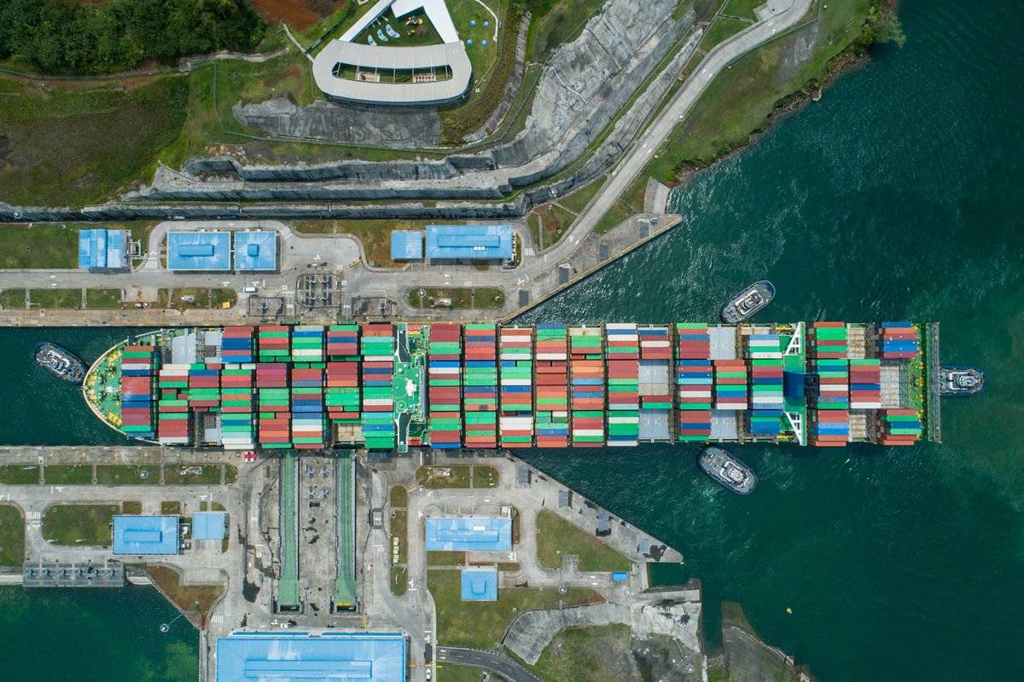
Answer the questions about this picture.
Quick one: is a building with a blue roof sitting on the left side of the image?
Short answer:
Yes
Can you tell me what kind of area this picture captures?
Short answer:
port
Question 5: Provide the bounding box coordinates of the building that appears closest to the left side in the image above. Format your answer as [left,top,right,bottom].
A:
[79,230,124,268]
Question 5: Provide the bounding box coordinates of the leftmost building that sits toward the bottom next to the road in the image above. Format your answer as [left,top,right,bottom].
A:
[112,514,184,555]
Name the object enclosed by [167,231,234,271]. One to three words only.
building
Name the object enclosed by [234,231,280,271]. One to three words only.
building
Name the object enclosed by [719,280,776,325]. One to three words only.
boat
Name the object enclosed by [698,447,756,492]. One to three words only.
boat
